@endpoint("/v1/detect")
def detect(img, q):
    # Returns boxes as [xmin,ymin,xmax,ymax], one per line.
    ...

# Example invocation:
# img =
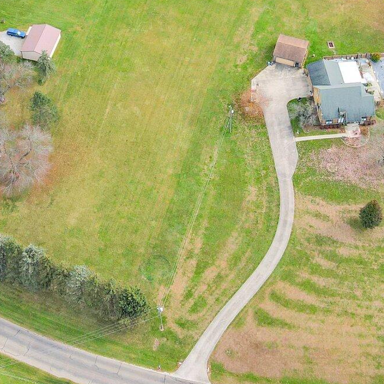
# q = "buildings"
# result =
[273,34,308,69]
[21,22,61,62]
[307,57,376,131]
